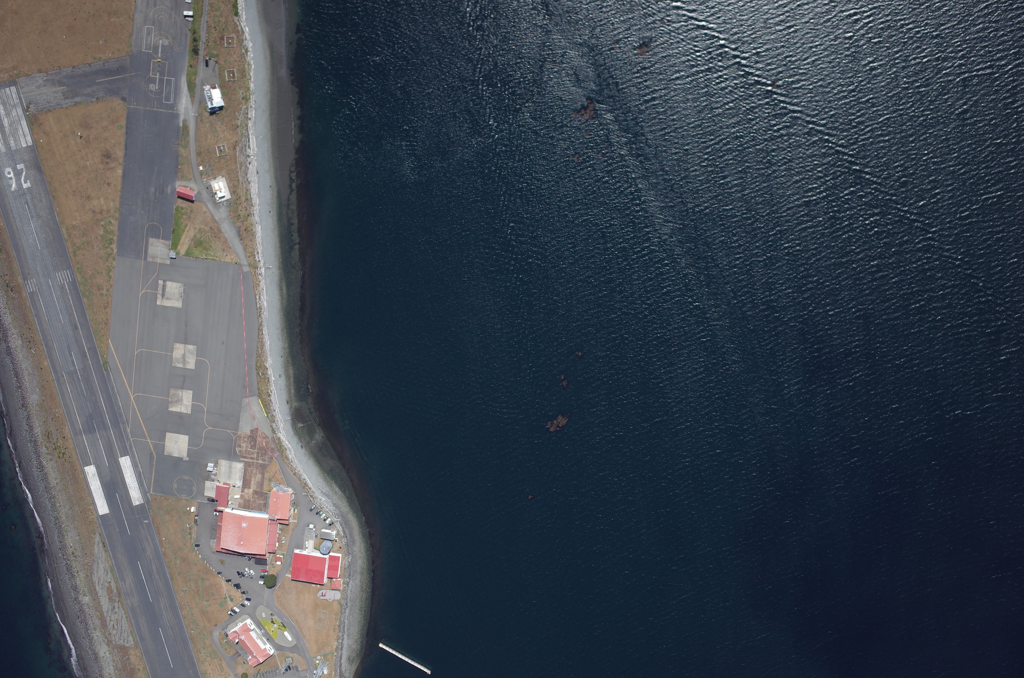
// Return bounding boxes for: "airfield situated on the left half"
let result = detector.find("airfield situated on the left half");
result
[0,0,278,678]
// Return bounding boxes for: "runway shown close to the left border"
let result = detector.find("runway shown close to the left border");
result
[0,79,201,678]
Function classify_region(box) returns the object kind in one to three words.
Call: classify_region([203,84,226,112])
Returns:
house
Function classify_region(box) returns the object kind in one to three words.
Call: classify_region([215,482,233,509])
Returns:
building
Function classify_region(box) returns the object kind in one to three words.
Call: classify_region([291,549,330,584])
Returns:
building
